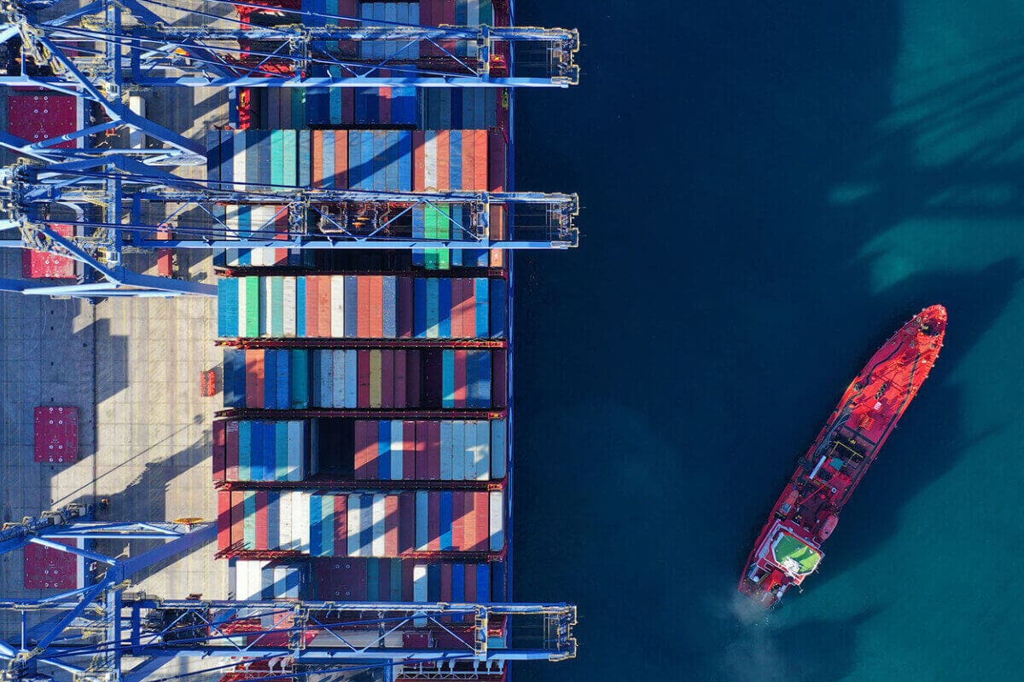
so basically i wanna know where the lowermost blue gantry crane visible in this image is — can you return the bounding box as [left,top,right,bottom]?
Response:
[0,501,586,682]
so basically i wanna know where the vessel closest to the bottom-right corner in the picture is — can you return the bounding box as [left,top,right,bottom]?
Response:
[739,306,943,606]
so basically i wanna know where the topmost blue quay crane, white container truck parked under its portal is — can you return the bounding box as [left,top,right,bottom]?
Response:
[0,0,583,181]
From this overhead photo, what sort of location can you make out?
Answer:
port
